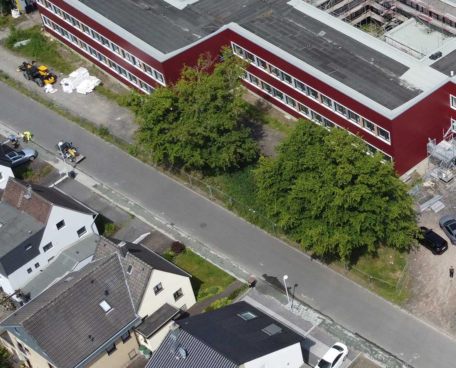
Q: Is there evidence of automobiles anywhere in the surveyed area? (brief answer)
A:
Yes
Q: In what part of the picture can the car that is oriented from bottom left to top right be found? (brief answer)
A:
bottom right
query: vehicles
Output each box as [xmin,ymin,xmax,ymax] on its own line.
[14,66,57,89]
[437,213,456,249]
[57,136,87,167]
[413,222,452,258]
[311,338,356,368]
[7,147,46,168]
